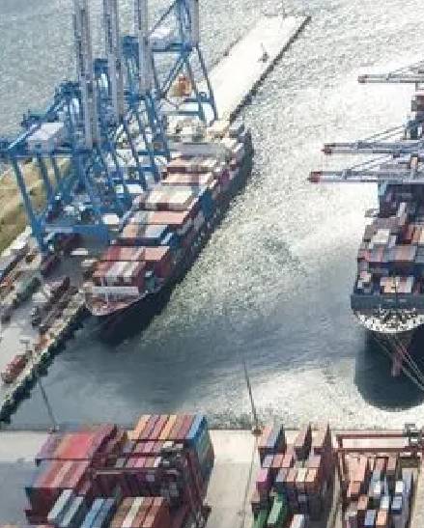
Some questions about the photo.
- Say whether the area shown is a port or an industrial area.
port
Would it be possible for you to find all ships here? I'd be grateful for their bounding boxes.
[346,272,424,375]
[79,124,262,337]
